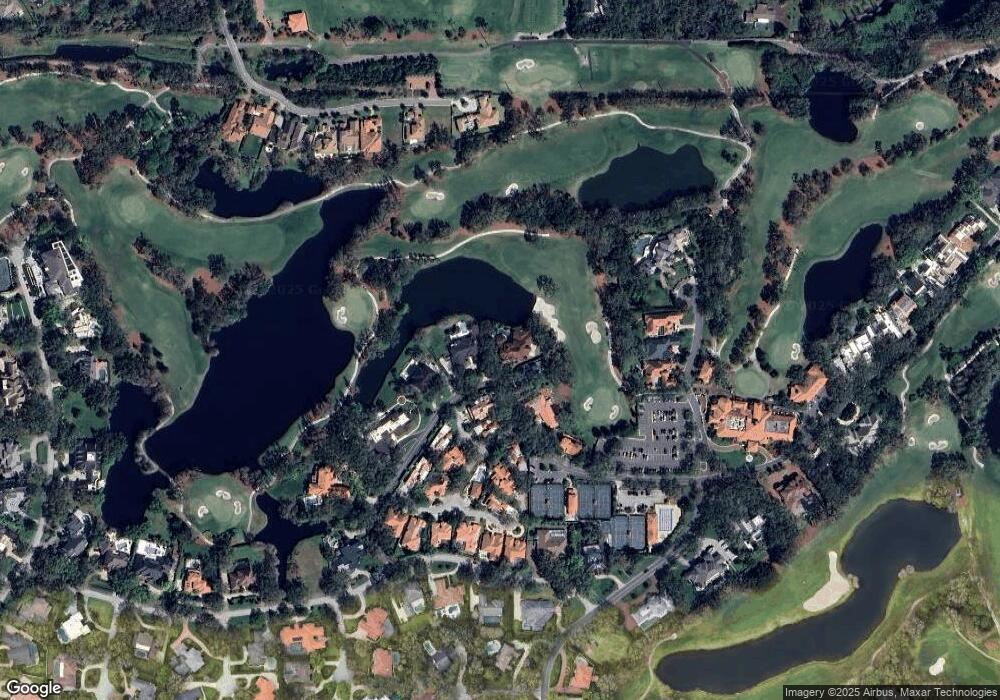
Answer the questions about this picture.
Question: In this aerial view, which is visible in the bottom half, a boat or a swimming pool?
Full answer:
You can see a swimming pool in the bottom half.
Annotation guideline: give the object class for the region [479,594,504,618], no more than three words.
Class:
house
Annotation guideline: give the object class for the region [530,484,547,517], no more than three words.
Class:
tennis court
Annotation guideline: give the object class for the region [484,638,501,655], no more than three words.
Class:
swimming pool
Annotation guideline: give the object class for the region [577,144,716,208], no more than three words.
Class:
pond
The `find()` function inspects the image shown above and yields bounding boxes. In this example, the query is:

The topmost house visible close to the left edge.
[38,245,75,297]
